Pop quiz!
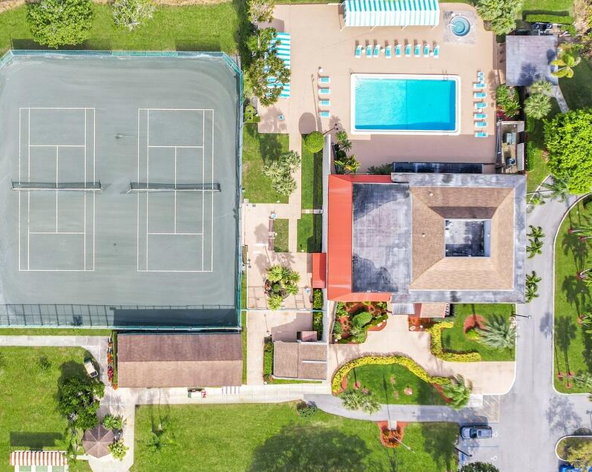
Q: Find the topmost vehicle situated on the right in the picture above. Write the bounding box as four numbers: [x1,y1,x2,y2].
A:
[461,424,494,439]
